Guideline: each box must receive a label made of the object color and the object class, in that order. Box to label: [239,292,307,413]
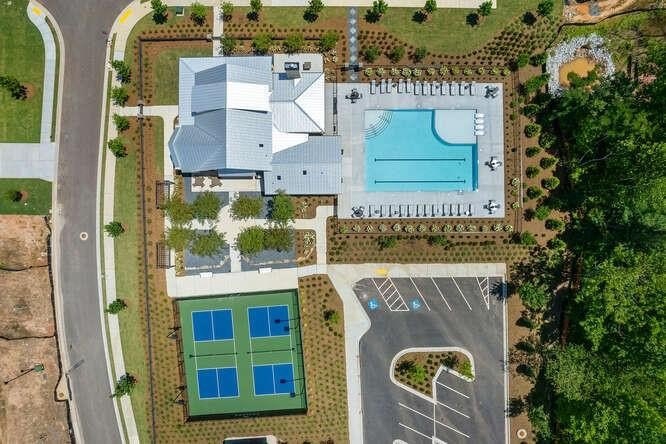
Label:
green sports court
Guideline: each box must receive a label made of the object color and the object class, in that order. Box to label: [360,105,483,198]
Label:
blue swimming pool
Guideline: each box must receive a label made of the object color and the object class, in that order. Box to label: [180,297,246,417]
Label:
green sports court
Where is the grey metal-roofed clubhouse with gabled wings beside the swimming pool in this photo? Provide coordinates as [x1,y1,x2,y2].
[168,53,343,195]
